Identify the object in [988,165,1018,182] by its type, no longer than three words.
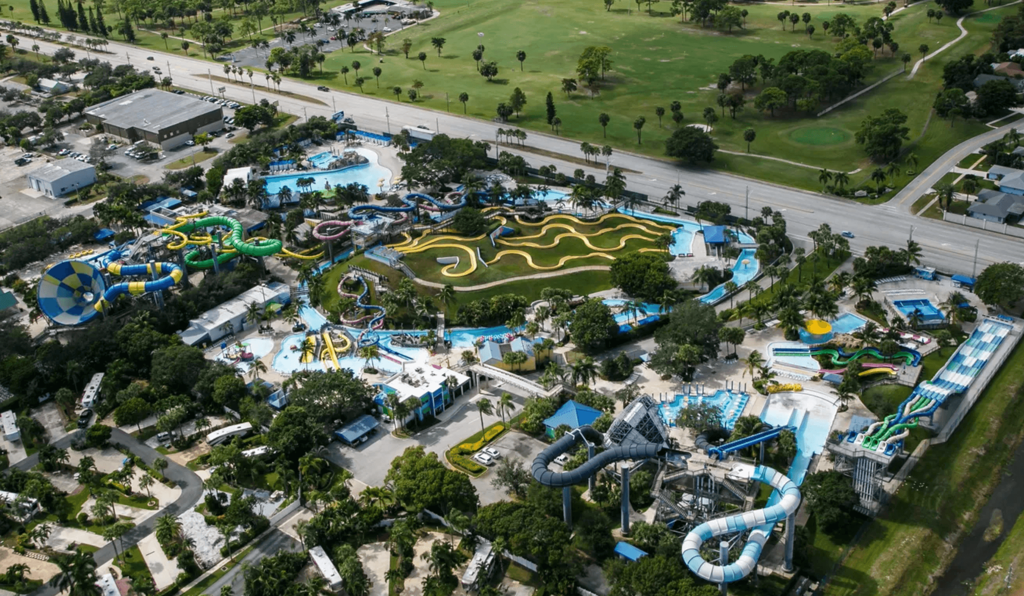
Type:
house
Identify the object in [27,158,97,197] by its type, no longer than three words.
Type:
building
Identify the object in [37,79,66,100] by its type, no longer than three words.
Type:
house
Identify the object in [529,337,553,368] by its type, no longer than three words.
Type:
building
